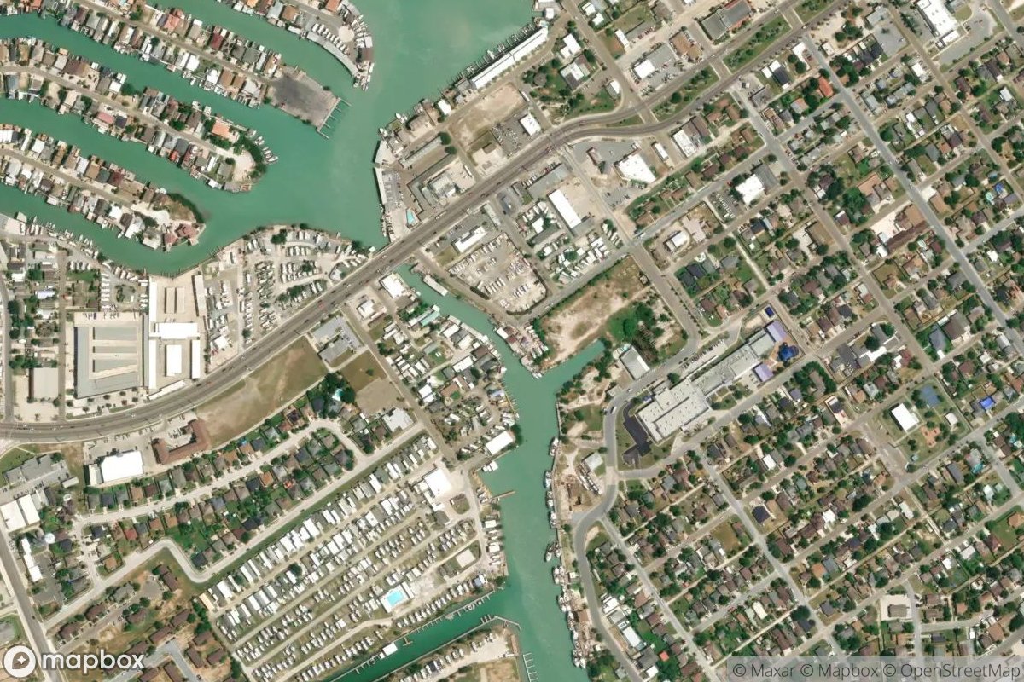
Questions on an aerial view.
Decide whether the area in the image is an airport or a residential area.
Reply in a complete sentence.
This image shows a residential area.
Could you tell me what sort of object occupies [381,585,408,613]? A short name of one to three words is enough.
swimming pool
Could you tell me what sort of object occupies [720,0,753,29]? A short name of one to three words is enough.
building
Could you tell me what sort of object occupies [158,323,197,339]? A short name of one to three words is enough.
shed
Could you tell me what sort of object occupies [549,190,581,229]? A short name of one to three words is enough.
building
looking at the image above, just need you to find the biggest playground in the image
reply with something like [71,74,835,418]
[772,338,805,365]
